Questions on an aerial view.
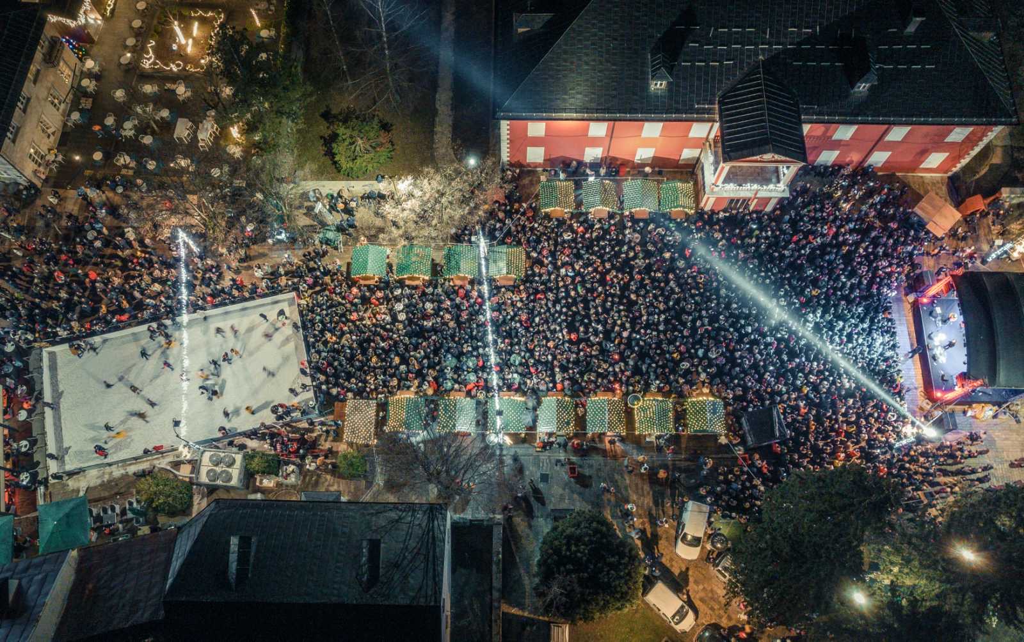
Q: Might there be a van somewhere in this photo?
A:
Yes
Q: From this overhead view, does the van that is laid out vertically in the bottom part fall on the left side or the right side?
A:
right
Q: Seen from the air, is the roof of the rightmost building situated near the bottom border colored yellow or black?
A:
black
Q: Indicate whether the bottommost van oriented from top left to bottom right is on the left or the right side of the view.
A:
right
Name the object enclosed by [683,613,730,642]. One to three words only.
car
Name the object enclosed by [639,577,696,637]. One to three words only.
van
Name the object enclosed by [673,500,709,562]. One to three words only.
van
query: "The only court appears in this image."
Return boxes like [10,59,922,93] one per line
[40,291,321,478]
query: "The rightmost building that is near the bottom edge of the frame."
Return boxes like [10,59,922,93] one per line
[162,499,454,642]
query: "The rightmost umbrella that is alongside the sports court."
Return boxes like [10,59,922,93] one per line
[38,496,89,555]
